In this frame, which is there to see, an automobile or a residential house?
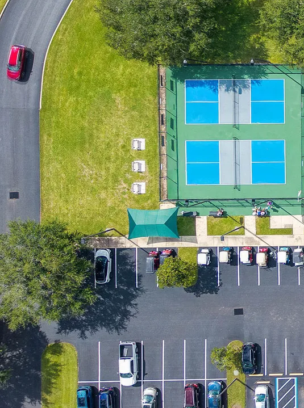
automobile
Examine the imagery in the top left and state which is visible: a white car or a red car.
red car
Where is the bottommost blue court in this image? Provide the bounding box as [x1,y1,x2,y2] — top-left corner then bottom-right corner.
[185,140,286,185]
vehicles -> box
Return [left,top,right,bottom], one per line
[99,386,118,408]
[199,247,213,266]
[242,341,259,375]
[220,247,233,266]
[118,340,140,386]
[77,384,95,408]
[148,251,162,269]
[160,247,175,257]
[206,380,225,408]
[254,384,271,408]
[141,386,159,408]
[93,248,114,285]
[185,382,202,408]
[6,44,29,81]
[241,247,254,266]
[277,247,291,266]
[257,248,271,267]
[293,248,304,267]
